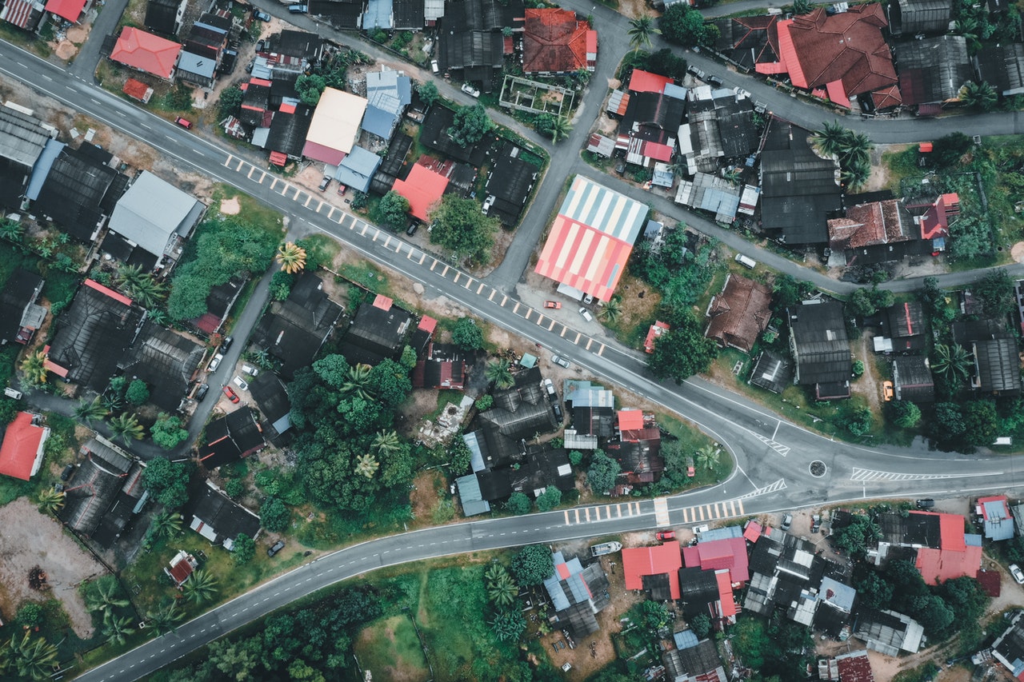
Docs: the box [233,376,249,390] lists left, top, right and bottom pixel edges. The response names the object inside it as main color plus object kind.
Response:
white car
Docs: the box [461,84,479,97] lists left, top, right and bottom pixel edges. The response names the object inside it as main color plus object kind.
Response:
white vehicle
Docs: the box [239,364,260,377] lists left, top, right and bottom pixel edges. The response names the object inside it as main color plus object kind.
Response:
white vehicle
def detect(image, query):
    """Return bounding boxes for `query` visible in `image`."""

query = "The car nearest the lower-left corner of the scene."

[60,463,75,482]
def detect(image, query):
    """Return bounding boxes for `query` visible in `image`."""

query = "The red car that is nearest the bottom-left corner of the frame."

[223,387,239,403]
